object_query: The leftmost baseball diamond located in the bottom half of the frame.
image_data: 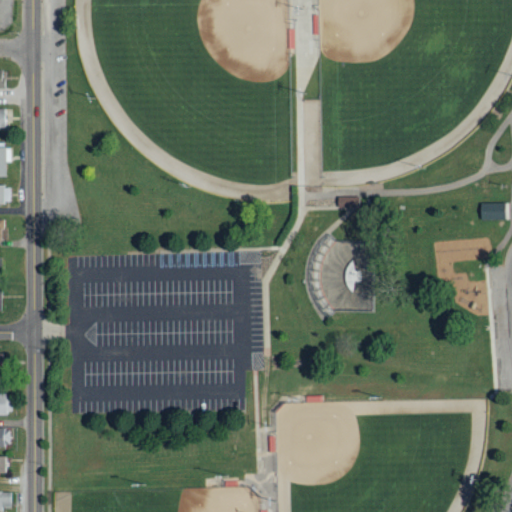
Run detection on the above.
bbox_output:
[54,486,262,512]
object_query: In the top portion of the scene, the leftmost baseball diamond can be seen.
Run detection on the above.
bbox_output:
[74,0,291,202]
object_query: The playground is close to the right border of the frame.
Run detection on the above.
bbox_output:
[435,238,492,315]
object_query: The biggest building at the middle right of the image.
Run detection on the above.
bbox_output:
[482,203,511,220]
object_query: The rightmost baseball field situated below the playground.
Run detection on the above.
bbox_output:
[277,399,487,512]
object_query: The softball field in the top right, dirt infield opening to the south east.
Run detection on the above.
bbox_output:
[320,0,512,187]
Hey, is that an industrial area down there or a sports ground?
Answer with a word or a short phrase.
sports ground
